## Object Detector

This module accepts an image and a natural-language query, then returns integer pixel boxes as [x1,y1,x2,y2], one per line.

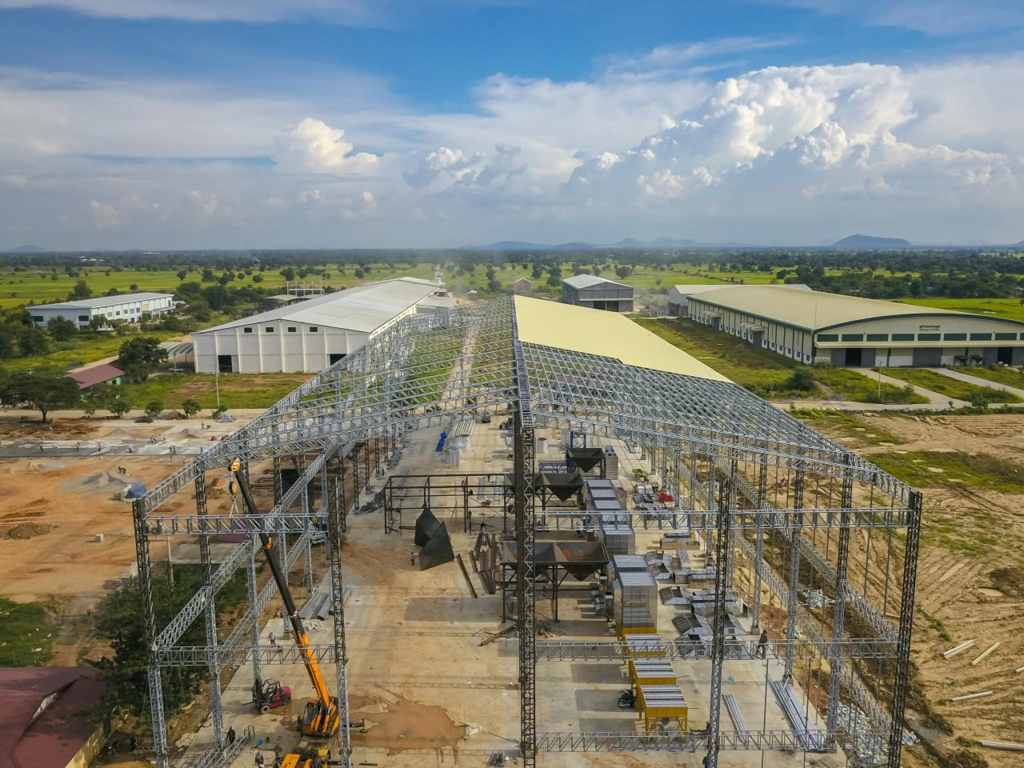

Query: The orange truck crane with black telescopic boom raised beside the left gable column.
[224,454,374,768]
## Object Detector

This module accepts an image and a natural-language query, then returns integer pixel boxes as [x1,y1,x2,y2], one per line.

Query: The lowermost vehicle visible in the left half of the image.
[240,680,295,717]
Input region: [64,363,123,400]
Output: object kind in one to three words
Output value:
building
